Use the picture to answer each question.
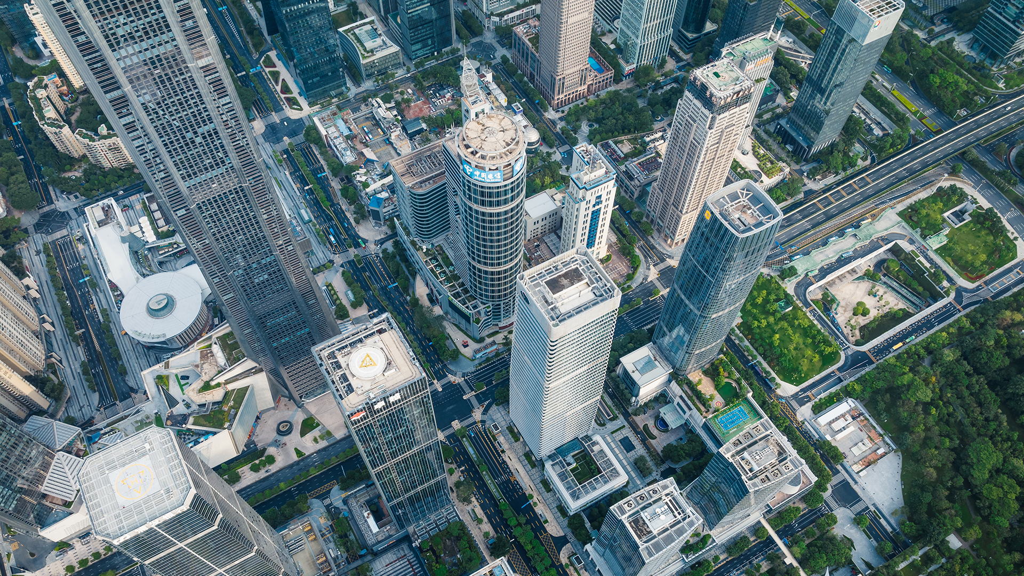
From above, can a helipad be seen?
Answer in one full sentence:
Yes, there's a helipad here.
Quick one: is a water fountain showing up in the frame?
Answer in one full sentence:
Yes, a water fountain can be made out from above.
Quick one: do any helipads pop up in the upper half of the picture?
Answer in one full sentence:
No, in the upper half of the picture there is no helipad.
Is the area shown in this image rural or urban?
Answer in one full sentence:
It looks urban.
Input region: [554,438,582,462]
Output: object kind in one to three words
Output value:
swimming pool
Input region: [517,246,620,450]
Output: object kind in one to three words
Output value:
building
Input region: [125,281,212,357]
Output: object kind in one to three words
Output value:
building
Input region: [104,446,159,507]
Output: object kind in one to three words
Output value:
helipad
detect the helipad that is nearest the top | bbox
[349,346,388,382]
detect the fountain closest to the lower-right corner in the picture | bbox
[652,413,672,433]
